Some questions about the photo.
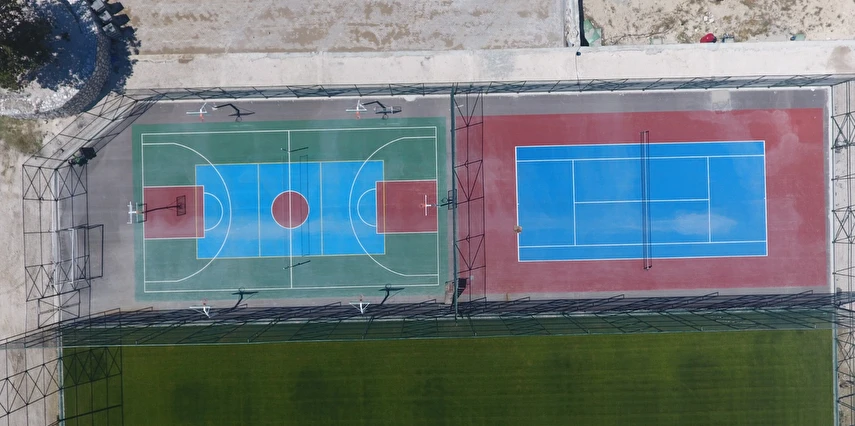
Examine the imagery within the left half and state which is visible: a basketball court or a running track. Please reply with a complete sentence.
What appears within the left half is a basketball court.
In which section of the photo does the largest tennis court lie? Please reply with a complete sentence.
Look in the right portion of the view to spot the largest tennis court.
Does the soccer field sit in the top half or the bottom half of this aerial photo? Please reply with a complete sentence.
The soccer field sits in the bottom half of the picture.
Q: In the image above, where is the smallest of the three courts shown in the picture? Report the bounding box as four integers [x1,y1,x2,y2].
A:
[195,160,386,259]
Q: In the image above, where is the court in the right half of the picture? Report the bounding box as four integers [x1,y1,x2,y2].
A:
[457,108,827,293]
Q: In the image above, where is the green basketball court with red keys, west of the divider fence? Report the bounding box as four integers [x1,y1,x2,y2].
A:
[132,117,448,302]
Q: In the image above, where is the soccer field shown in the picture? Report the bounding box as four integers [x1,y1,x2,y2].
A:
[63,312,832,426]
